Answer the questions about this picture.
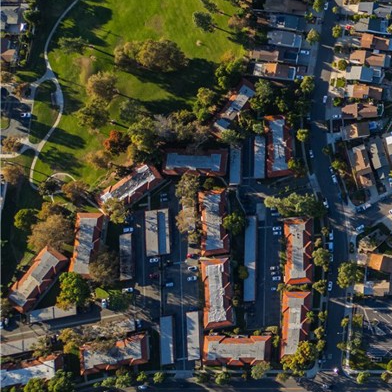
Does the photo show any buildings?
Yes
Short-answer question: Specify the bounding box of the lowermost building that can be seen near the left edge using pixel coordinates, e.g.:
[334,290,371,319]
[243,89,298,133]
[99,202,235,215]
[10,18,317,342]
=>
[0,350,70,391]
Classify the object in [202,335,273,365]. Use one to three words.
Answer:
building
